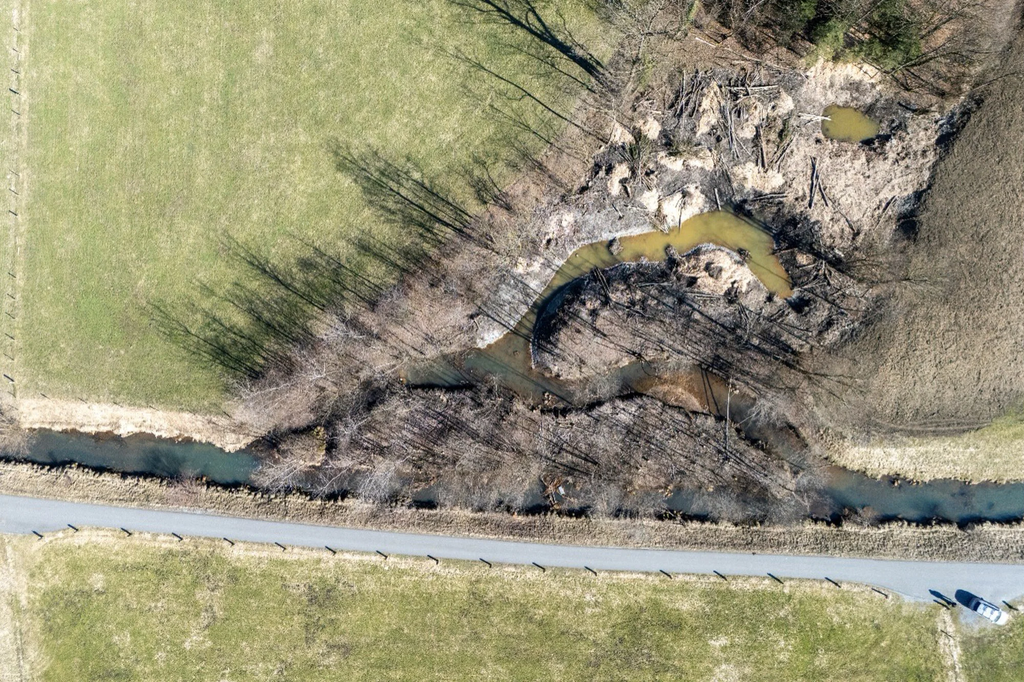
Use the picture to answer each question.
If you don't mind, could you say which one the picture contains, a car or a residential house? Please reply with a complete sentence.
Looking from above, you can make out a car.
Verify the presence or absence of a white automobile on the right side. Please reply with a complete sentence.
Yes, looking on the right side, one can make out a white automobile.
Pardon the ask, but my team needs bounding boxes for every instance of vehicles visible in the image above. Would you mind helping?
[966,595,1012,626]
